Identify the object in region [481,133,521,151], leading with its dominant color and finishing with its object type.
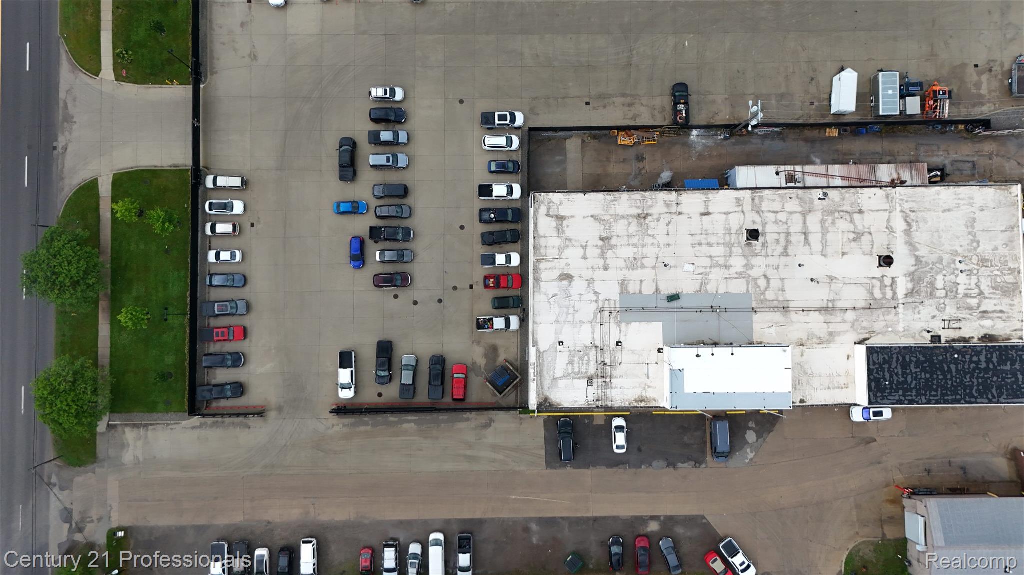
white car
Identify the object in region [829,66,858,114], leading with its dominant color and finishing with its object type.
white trailer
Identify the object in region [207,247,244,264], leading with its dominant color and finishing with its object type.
white car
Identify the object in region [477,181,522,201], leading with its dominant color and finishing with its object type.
white vehicle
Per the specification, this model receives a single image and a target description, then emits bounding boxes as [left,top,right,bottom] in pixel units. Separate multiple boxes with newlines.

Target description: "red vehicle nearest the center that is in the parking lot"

[483,272,523,291]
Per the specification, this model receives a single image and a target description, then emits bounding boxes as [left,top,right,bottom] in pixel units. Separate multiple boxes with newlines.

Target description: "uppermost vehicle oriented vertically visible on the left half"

[337,137,357,184]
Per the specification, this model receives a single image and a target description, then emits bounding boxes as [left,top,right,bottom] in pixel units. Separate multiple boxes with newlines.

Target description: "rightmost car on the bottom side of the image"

[847,406,892,423]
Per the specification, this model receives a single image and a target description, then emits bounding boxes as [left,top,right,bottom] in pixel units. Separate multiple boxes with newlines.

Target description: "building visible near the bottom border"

[903,494,1024,575]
